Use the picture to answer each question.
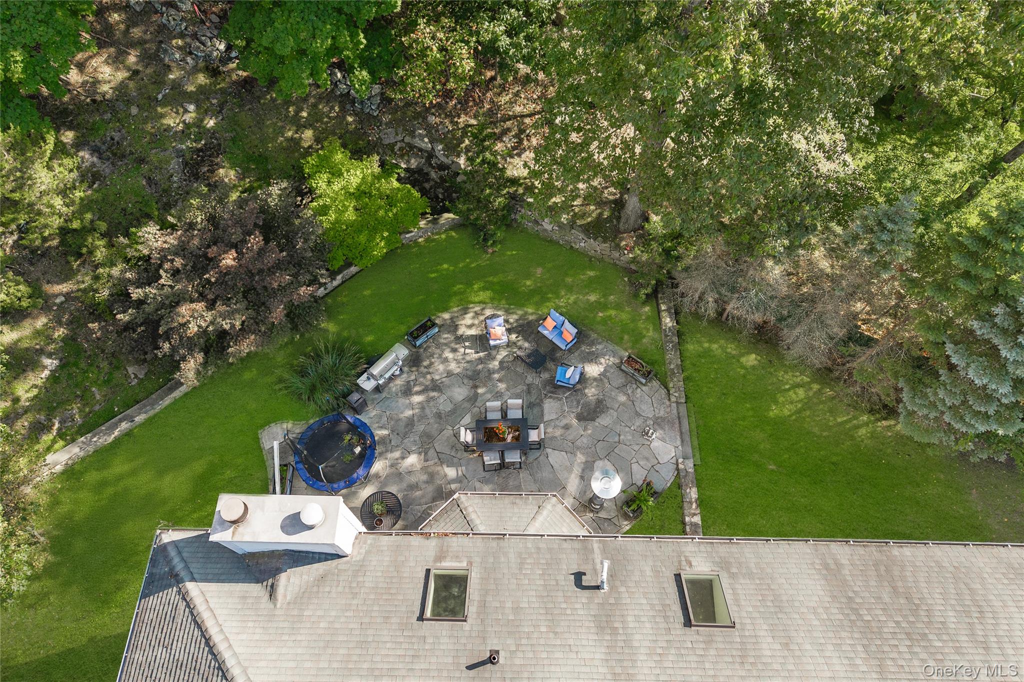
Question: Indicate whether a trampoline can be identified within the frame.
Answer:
Yes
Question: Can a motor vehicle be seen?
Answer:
No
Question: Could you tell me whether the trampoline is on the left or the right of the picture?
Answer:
left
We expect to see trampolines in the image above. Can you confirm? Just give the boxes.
[284,397,381,497]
